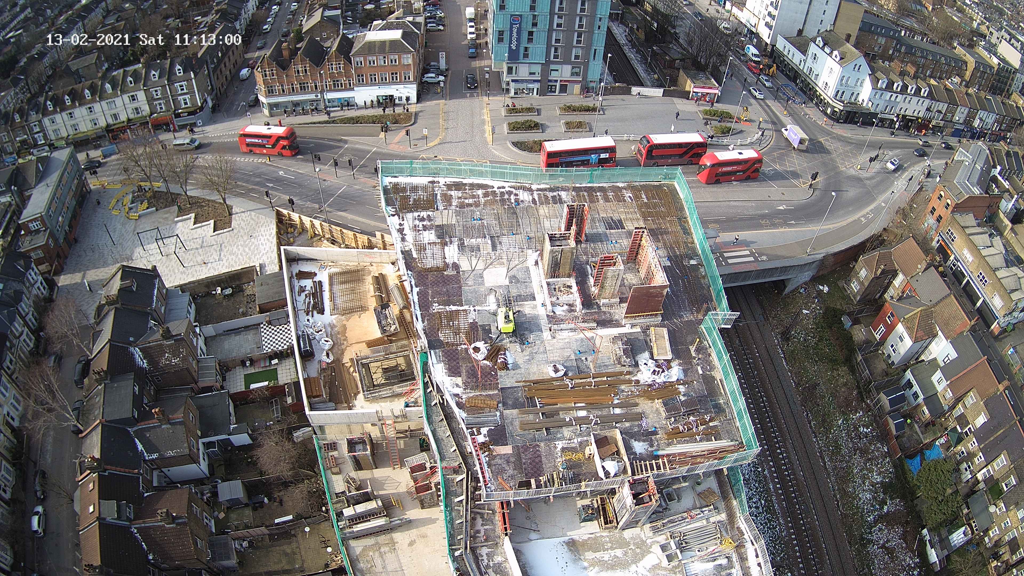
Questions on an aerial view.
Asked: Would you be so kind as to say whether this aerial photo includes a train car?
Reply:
No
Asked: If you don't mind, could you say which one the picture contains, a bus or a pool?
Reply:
bus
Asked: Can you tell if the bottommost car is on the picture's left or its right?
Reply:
left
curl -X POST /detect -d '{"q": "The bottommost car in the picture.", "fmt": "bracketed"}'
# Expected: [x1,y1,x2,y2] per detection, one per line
[25,505,48,536]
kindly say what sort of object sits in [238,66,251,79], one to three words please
vehicle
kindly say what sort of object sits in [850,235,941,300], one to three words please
house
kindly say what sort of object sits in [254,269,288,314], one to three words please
shed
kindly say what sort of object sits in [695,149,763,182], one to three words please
bus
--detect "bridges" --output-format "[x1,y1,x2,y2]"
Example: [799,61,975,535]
[719,257,824,294]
